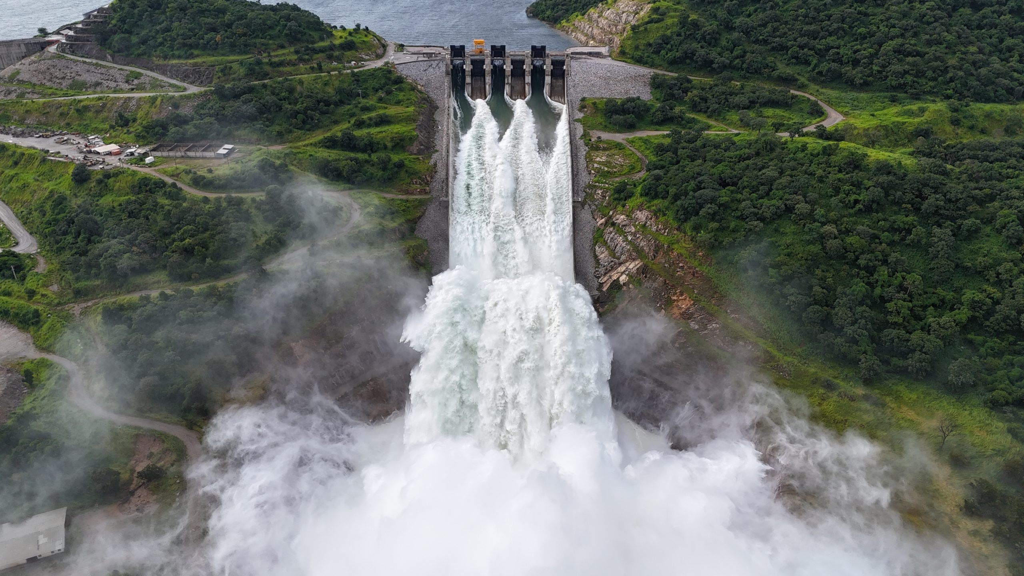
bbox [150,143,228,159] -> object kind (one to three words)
building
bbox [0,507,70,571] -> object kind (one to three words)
building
